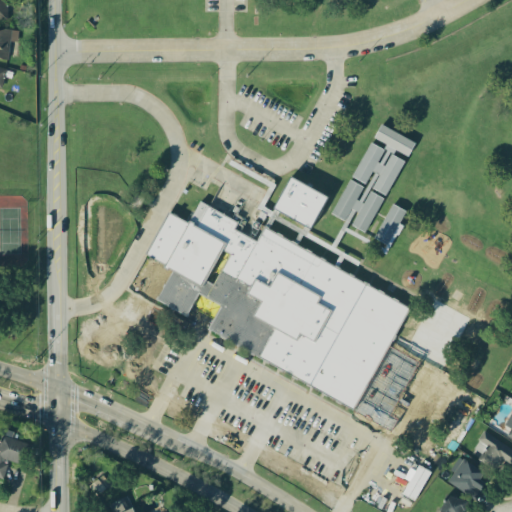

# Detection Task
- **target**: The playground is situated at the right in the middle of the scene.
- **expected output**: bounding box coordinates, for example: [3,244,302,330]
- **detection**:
[410,232,452,269]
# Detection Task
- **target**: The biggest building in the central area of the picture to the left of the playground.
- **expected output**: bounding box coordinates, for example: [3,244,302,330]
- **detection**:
[150,201,410,408]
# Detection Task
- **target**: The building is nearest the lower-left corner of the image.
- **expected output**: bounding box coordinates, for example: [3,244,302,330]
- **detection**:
[0,437,29,478]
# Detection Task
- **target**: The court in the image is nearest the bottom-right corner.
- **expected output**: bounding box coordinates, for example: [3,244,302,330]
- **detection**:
[413,302,470,366]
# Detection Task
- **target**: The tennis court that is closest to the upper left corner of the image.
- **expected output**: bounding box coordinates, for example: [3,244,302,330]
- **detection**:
[0,196,28,268]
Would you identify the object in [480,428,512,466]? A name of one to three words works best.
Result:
house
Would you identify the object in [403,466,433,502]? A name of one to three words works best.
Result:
building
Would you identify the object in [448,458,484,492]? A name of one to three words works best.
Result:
house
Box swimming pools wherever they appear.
[490,397,512,436]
